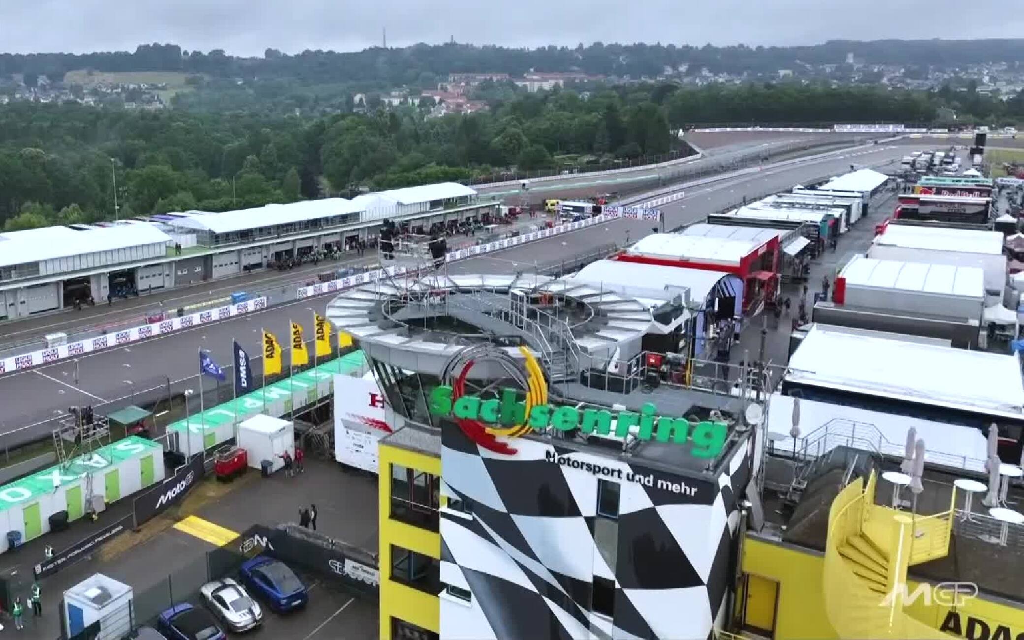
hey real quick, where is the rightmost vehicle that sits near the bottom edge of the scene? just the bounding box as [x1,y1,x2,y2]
[244,559,309,609]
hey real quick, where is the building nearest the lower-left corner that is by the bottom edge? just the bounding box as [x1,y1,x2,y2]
[60,572,136,640]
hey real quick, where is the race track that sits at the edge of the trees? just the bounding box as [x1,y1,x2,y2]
[0,136,949,446]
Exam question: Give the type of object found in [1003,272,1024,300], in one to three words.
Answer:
tent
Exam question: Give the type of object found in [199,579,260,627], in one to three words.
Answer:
car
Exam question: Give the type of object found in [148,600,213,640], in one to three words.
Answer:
car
